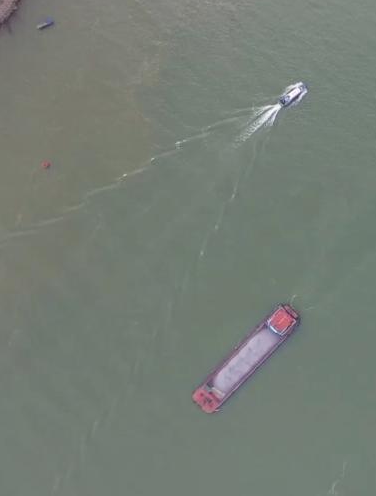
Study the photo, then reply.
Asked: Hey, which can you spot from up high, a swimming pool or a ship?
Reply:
ship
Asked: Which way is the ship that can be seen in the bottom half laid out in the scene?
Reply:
on a diagonal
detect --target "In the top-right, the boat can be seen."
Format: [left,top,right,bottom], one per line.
[279,85,306,104]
